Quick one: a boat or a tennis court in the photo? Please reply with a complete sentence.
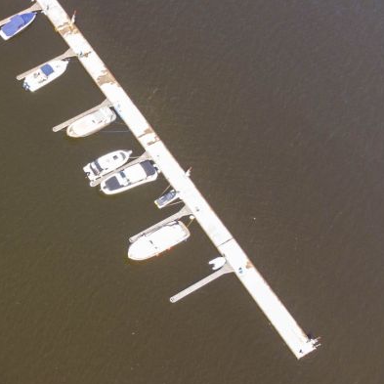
Of the two, only a boat appears.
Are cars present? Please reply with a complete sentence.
No, the photo shows no car.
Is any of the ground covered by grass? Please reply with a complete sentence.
No, the scene doesn't show any grass.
